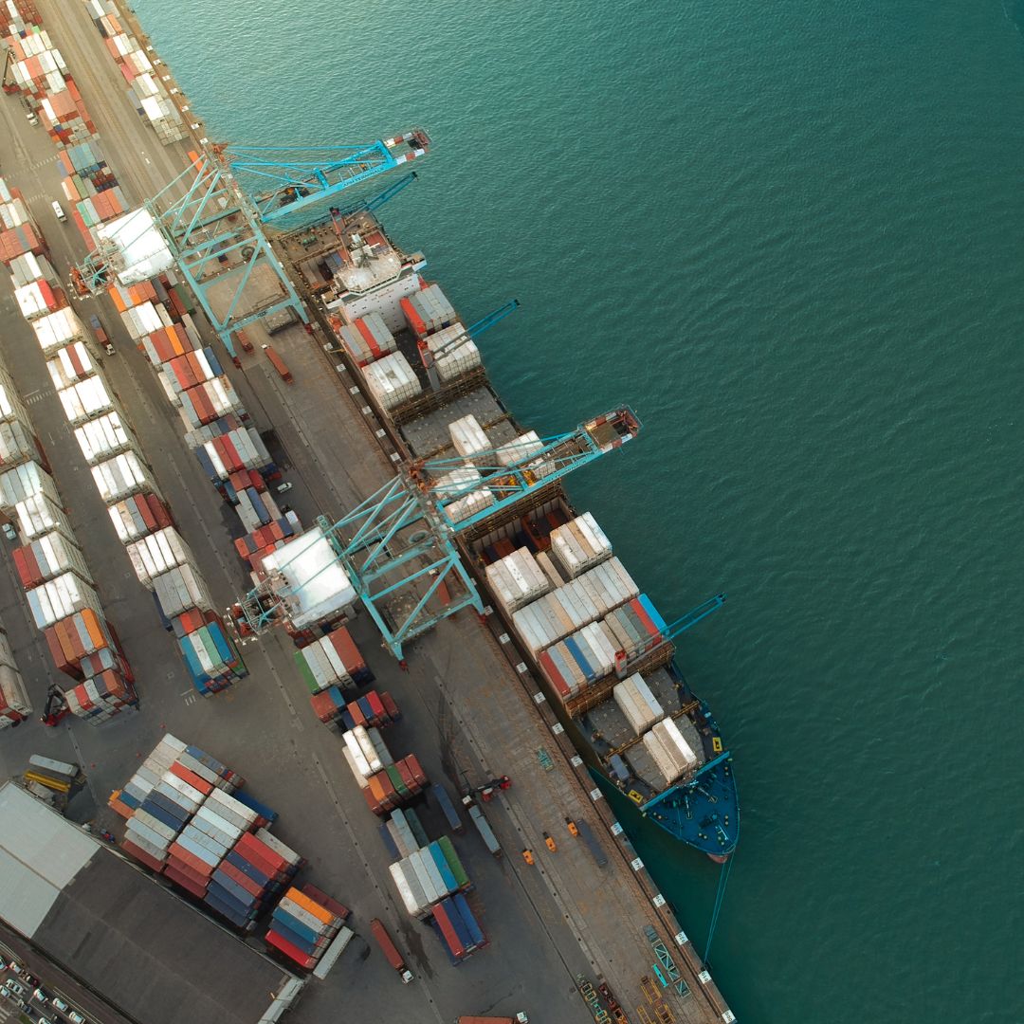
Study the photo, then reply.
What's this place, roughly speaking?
port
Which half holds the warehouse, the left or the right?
left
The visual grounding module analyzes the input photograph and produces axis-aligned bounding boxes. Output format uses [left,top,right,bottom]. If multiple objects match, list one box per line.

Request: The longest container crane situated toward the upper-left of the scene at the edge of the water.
[61,120,433,359]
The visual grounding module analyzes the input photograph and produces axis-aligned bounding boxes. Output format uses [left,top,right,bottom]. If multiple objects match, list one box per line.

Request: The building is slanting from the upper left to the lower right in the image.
[0,769,310,1024]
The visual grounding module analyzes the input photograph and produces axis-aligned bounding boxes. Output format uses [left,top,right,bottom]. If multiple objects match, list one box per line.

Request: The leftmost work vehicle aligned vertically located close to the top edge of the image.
[2,50,18,101]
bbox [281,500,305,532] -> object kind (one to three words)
truck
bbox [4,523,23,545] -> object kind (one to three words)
vehicle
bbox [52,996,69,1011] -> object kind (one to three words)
car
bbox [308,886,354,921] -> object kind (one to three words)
shipping container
